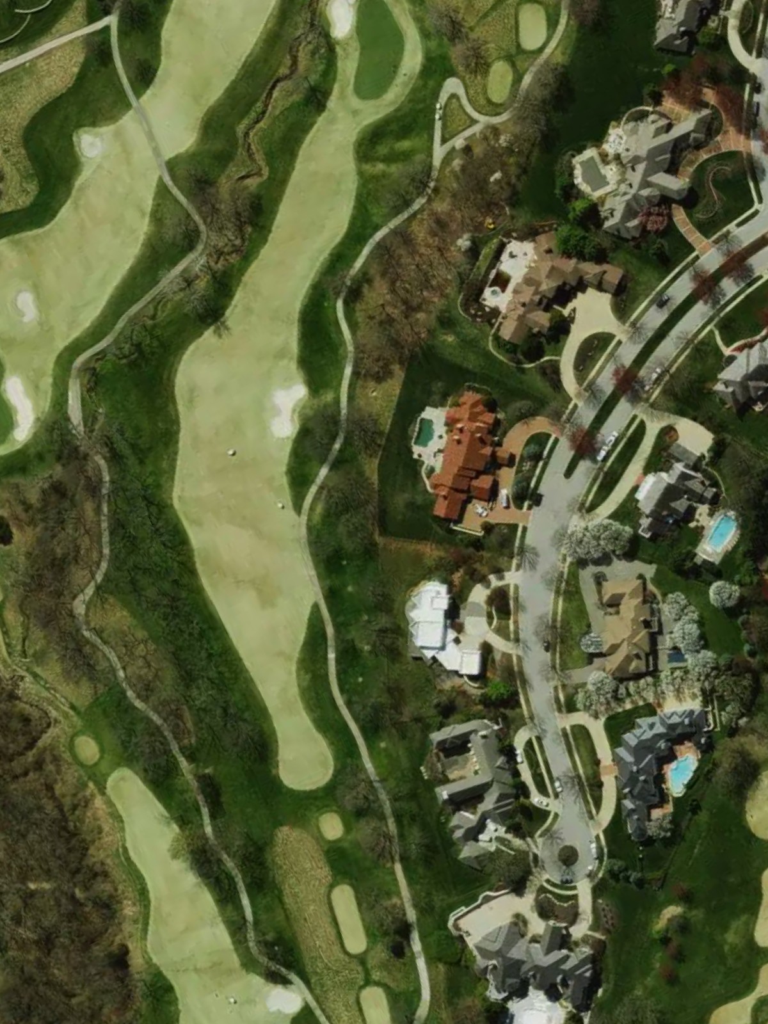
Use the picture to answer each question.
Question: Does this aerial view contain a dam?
No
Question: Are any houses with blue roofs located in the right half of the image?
No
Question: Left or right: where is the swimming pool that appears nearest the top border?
right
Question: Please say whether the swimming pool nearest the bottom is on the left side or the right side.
right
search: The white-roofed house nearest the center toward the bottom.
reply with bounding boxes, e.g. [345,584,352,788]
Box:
[409,579,482,676]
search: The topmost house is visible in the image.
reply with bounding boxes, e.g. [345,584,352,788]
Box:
[648,0,719,56]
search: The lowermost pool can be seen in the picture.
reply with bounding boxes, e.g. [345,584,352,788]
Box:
[670,754,699,796]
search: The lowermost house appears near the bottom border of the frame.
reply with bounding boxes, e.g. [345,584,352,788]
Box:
[471,916,598,1014]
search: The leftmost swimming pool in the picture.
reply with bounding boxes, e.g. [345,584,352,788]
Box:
[414,418,435,446]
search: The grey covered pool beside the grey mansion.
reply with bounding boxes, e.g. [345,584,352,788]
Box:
[579,156,608,192]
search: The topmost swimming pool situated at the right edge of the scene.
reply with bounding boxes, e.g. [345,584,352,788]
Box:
[695,511,741,561]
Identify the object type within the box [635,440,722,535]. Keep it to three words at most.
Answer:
house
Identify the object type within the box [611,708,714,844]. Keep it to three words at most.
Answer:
house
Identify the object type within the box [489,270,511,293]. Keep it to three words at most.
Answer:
swimming pool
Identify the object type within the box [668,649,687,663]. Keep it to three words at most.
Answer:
swimming pool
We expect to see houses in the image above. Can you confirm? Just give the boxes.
[595,576,653,684]
[648,0,719,56]
[428,714,518,873]
[607,107,717,241]
[409,579,482,676]
[498,232,628,347]
[635,440,722,535]
[471,916,598,1014]
[611,708,714,844]
[429,388,512,523]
